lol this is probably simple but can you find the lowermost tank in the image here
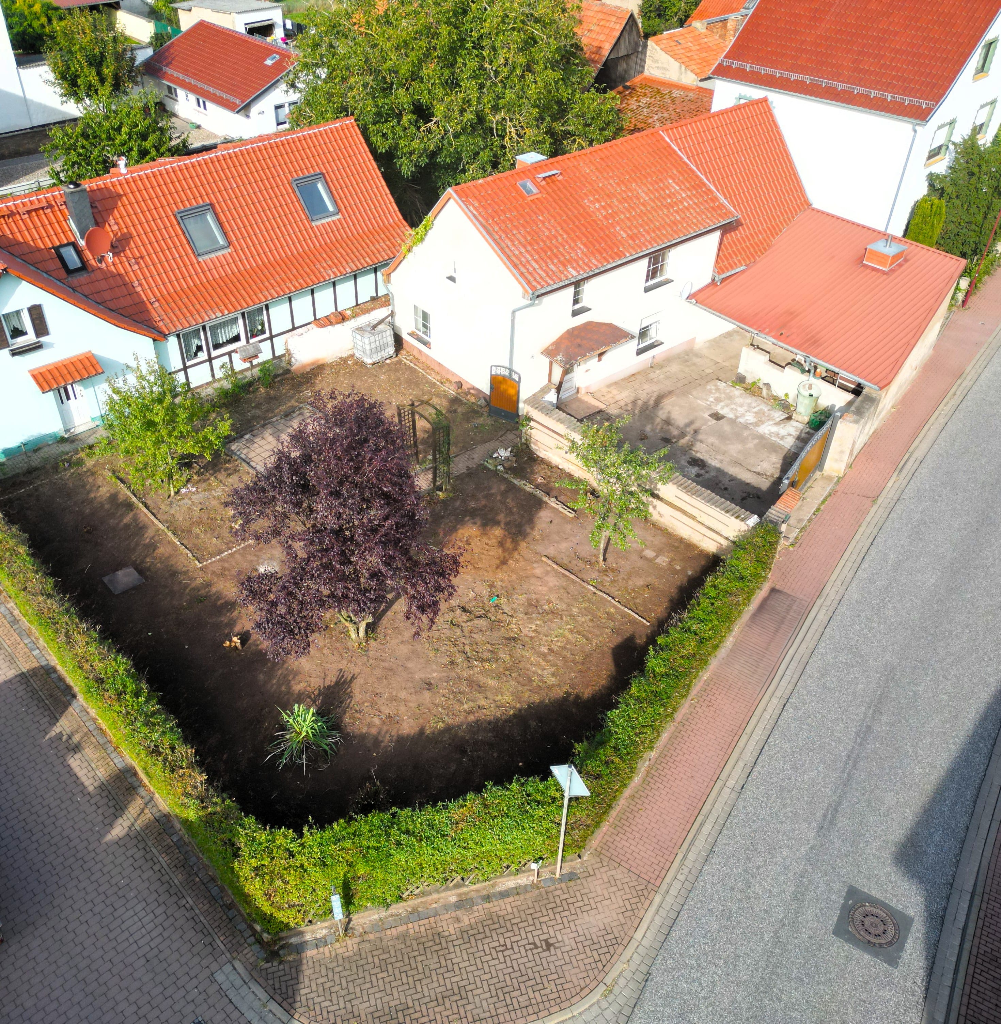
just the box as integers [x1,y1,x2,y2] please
[347,315,395,366]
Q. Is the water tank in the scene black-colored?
No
